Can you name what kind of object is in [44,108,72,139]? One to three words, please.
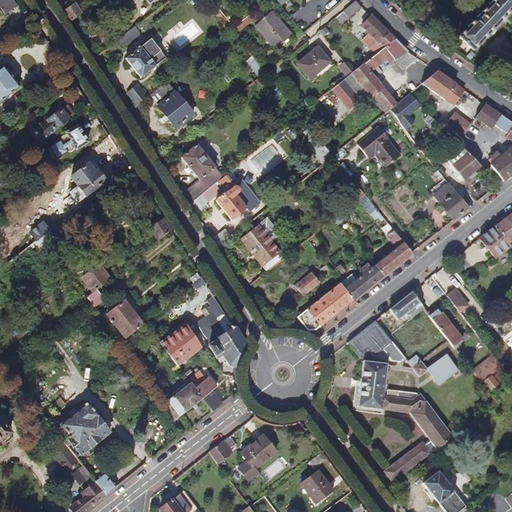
house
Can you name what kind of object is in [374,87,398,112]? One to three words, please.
shed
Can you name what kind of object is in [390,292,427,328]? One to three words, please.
building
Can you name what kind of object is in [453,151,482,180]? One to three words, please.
house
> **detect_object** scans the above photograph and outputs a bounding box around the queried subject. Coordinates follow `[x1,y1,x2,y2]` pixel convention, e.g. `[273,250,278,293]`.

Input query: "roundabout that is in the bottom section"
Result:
[247,334,321,411]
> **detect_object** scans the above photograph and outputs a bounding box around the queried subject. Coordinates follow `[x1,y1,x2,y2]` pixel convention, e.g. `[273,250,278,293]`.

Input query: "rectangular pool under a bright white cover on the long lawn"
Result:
[170,18,203,50]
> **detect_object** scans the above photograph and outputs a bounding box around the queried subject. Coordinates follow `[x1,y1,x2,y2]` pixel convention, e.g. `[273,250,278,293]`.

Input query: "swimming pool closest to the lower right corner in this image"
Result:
[260,457,288,482]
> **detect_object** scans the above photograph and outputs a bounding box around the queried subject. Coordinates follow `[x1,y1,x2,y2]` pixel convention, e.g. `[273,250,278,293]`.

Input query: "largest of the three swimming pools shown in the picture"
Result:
[246,139,286,178]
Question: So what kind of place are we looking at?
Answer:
residential area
